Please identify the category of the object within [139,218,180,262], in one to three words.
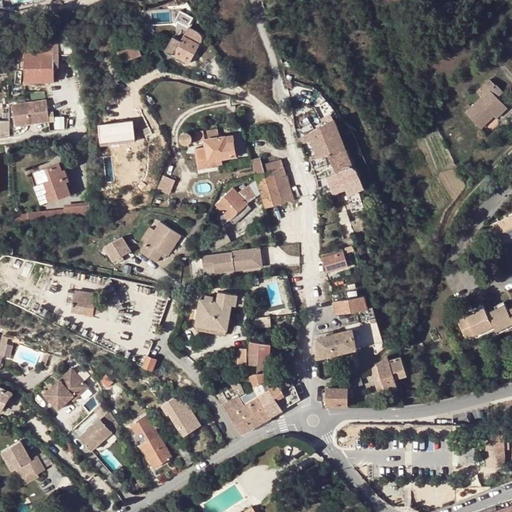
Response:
house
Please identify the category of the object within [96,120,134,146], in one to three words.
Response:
building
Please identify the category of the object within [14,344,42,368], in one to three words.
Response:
swimming pool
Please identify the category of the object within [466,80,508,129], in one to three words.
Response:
house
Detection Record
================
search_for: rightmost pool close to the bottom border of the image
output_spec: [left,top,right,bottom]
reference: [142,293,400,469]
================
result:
[199,466,276,512]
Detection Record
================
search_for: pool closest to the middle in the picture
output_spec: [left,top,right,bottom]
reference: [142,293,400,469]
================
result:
[258,276,292,316]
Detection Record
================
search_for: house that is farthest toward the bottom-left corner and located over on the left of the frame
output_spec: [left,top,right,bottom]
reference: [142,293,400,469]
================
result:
[0,442,44,486]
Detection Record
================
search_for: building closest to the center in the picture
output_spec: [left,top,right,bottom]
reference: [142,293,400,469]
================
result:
[232,248,264,272]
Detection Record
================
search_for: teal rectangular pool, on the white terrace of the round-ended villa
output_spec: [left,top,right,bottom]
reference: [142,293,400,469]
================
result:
[147,9,176,26]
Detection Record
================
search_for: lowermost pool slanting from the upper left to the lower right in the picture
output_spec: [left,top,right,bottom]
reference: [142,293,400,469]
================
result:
[98,447,124,472]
